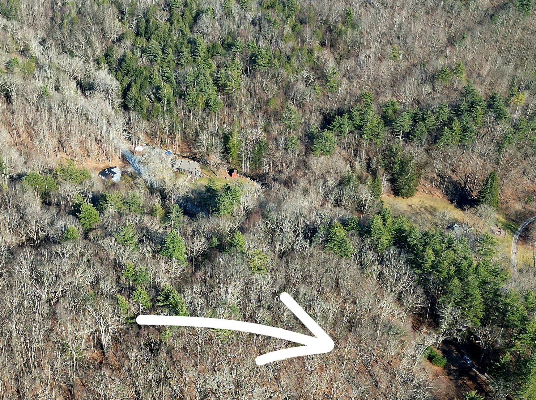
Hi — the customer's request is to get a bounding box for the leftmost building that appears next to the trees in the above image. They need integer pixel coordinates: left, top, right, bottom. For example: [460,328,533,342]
[97,160,122,183]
